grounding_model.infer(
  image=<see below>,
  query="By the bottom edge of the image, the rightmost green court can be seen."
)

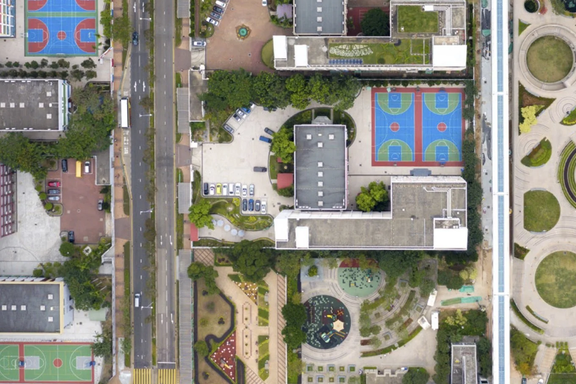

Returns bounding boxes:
[24,345,92,381]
